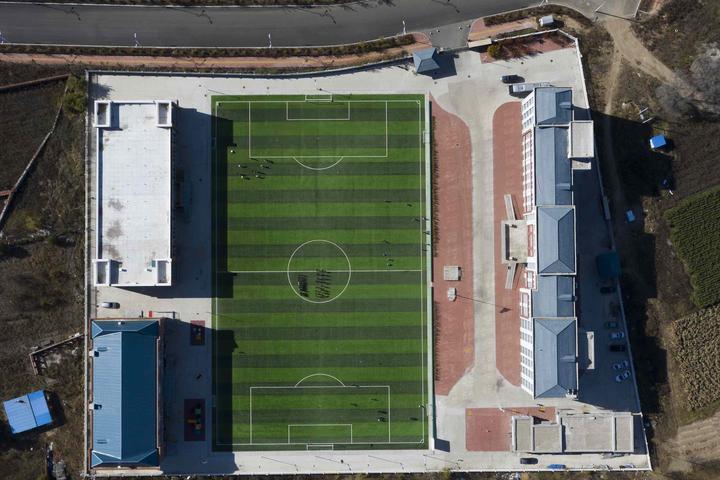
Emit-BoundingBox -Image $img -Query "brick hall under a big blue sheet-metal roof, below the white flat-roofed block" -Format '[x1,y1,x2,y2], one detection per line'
[89,314,172,470]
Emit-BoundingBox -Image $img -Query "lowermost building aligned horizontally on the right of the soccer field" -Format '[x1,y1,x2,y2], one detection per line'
[508,408,634,453]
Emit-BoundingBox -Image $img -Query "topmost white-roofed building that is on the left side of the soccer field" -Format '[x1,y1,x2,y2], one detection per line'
[94,100,190,286]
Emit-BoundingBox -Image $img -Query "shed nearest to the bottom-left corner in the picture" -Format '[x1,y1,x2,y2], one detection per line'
[4,390,54,433]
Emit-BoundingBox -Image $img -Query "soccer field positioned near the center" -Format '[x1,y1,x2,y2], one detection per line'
[212,94,428,451]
